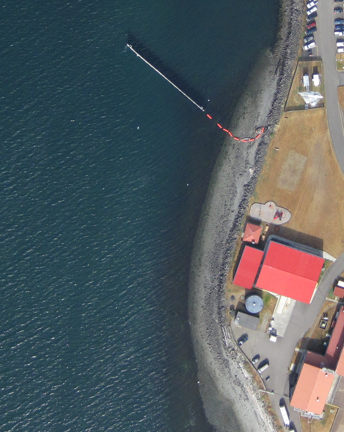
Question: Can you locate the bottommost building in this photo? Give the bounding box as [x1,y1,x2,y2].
[289,364,335,422]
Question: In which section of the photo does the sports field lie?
right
